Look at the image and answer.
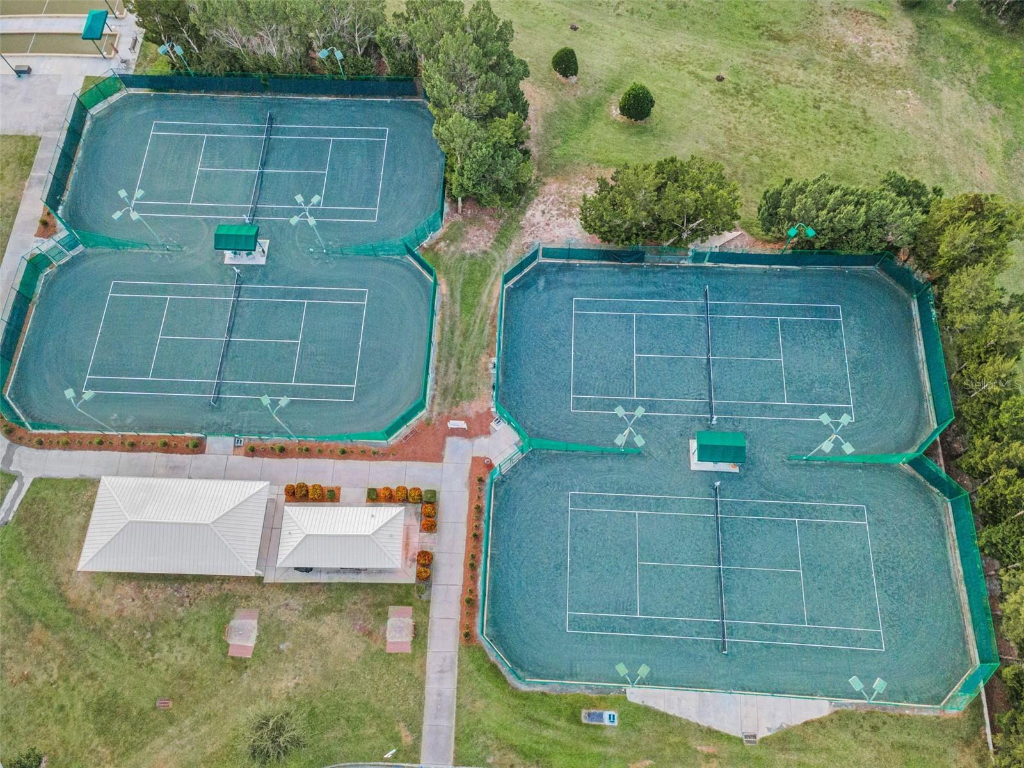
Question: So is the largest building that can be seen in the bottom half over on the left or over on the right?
left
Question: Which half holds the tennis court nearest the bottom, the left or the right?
right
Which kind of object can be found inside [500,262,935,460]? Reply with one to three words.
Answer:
tennis court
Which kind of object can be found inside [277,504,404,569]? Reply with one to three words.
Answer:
building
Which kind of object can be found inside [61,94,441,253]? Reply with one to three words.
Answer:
tennis court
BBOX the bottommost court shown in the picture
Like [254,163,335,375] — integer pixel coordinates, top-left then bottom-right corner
[485,448,976,704]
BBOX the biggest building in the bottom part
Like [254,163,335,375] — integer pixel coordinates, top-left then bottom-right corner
[78,478,274,575]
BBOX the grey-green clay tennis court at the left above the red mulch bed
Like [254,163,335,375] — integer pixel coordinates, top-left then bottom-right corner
[9,247,433,436]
